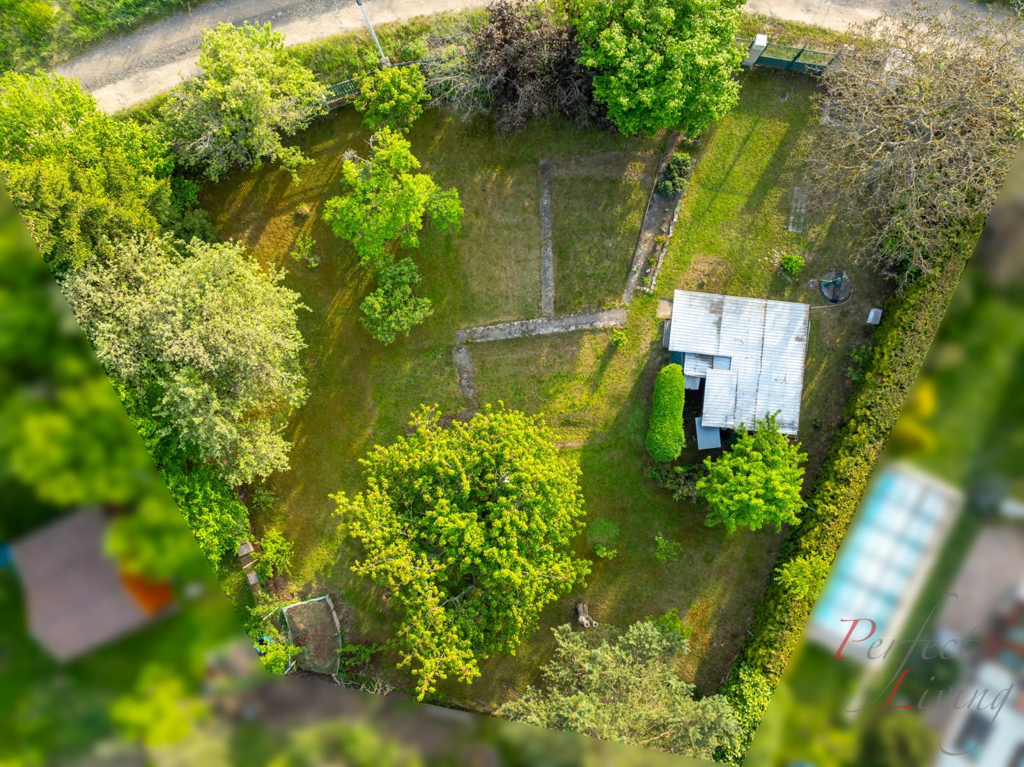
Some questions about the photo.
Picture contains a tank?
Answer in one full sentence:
No, the picture doesn't show any tank.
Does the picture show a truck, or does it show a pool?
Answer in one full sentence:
The image shows a pool.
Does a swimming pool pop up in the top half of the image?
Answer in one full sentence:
No, there's no swimming pool to be seen in the top half of the image.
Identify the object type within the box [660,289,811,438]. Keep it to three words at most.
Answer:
shed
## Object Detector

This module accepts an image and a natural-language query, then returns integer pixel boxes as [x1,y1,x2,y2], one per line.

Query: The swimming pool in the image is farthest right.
[812,470,962,672]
